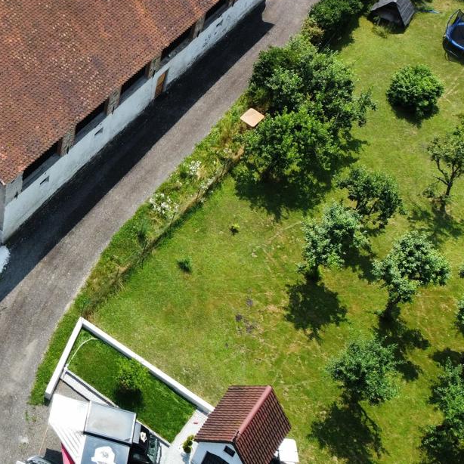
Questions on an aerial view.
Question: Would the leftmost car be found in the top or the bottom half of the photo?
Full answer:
It is in the bottom half that the leftmost car appears.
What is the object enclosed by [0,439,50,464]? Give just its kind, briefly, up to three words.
car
